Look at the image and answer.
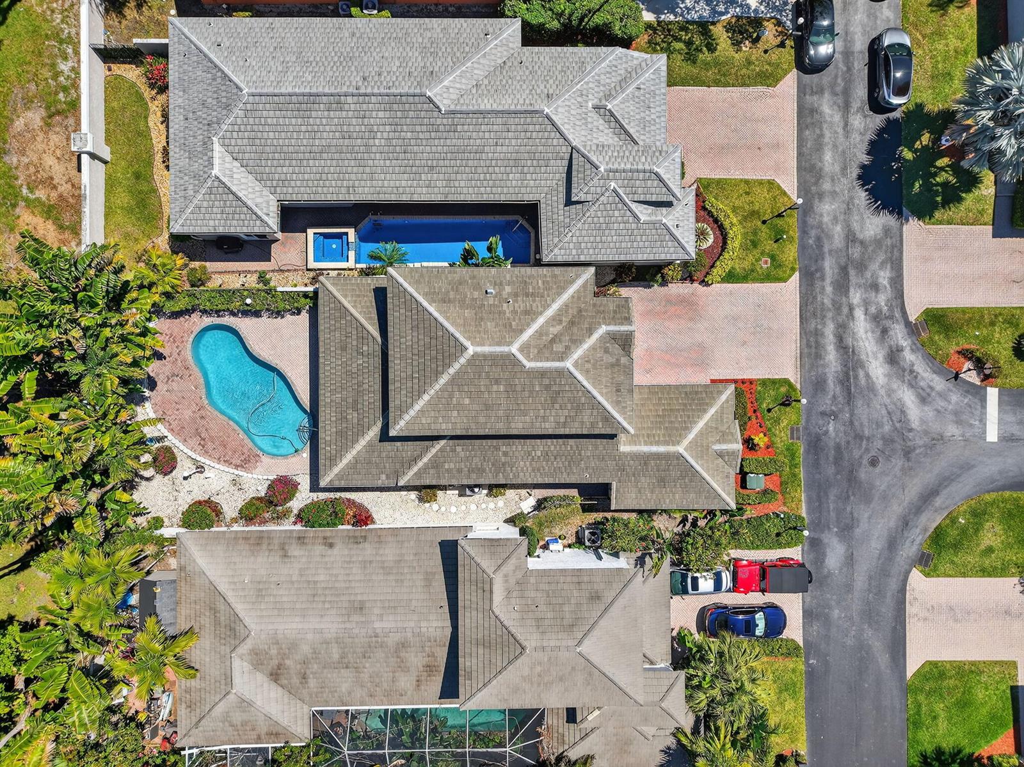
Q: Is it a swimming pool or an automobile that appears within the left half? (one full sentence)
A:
Looking within the left half, you will find a swimming pool.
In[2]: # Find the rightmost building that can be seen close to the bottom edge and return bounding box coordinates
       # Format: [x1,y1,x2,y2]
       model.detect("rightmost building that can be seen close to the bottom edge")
[175,515,690,767]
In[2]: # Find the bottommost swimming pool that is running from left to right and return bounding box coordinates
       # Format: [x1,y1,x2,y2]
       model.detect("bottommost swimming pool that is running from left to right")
[360,709,545,739]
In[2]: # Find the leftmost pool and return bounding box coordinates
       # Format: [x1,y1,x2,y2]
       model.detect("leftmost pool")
[187,318,317,460]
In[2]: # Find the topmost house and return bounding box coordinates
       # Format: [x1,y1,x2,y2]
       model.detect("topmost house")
[167,14,698,264]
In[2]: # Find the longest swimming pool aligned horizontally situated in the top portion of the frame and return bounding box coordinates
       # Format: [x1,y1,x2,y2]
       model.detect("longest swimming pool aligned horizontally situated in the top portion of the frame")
[352,208,537,269]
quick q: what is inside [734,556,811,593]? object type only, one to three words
car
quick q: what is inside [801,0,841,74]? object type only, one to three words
car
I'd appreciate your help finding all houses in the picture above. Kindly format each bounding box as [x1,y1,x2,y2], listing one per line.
[167,14,698,264]
[175,515,690,767]
[317,264,743,512]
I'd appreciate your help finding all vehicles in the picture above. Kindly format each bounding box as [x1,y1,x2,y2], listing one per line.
[734,556,811,593]
[874,30,915,109]
[672,563,731,598]
[801,0,841,74]
[706,602,782,639]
